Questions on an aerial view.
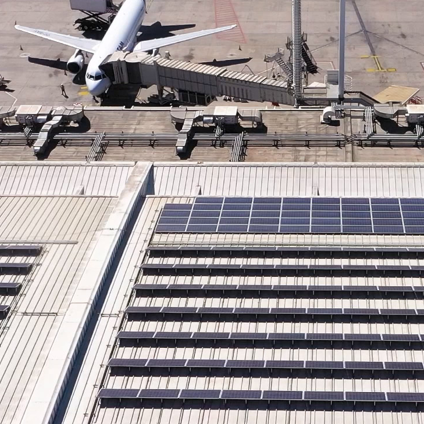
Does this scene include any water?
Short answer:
No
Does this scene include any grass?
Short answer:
No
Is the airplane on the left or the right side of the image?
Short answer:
left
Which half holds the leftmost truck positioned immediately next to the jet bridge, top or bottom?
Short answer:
top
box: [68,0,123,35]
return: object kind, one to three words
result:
truck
